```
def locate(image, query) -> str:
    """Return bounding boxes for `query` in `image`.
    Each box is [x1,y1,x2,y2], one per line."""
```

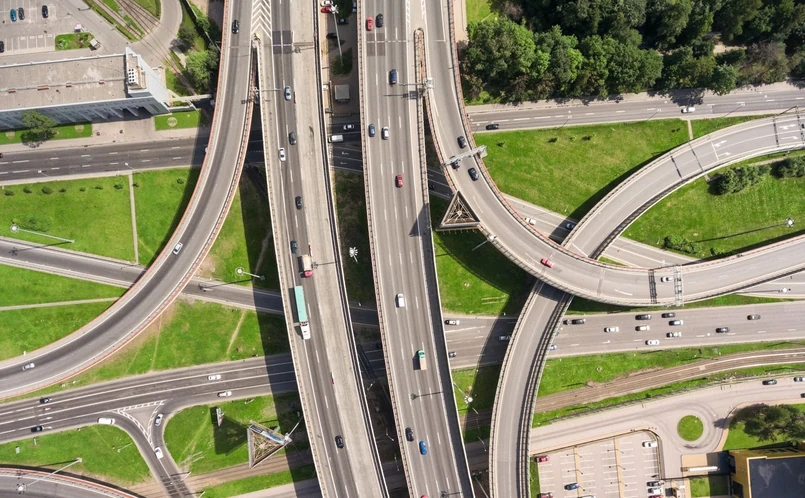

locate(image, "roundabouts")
[660,396,721,461]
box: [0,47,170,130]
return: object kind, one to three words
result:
building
